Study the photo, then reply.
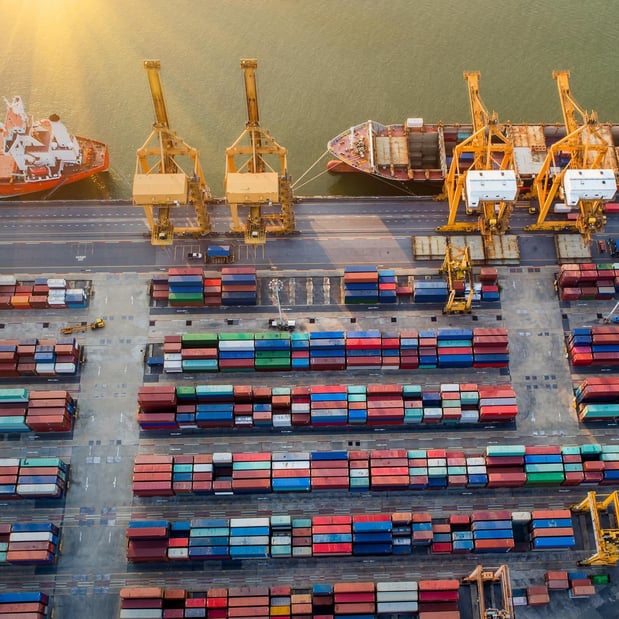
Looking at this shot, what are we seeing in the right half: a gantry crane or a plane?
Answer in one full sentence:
The feature located in the right half is a gantry crane.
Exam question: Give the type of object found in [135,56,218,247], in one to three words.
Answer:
container crane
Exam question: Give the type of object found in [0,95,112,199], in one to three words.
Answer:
ship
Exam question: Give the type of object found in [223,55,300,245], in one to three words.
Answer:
container crane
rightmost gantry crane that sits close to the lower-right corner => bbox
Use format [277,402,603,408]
[565,492,619,568]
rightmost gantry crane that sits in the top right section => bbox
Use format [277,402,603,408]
[525,62,619,251]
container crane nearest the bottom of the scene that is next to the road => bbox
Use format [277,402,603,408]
[458,564,514,619]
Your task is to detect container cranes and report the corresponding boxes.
[135,56,218,247]
[525,62,619,251]
[565,492,619,568]
[223,55,300,245]
[434,245,482,316]
[436,63,526,253]
[458,564,514,619]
